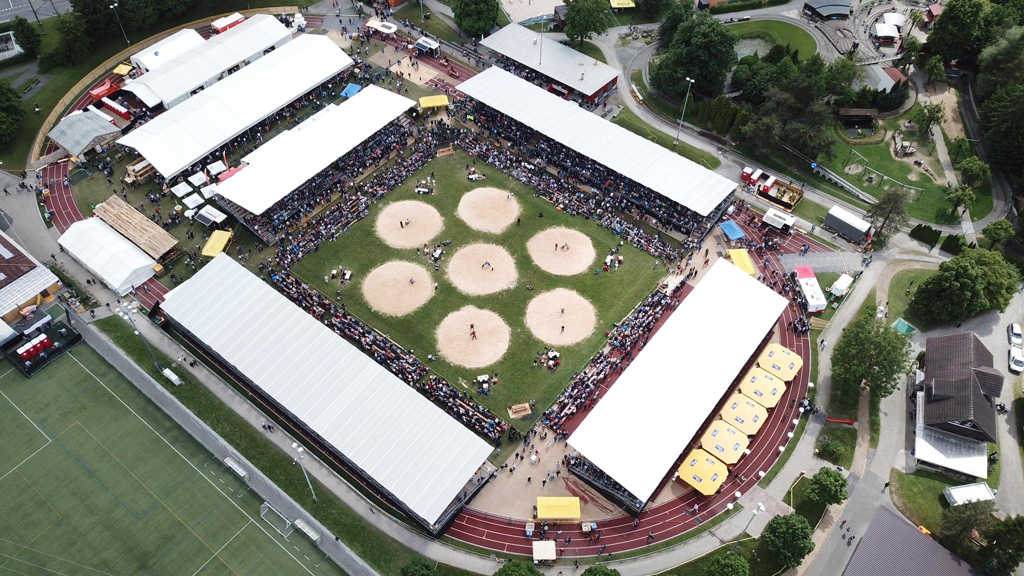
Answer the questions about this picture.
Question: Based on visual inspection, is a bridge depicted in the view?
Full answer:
Yes, there is a bridge in the image.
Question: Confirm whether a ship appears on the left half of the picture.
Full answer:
No, I see no ship on the left half of the picture.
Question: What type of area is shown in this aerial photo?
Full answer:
What you see here is a sports ground.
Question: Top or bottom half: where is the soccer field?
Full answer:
The soccer field sits in the bottom half of the picture.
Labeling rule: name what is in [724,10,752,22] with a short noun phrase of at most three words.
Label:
train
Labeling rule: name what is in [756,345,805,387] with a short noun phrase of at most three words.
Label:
umbrella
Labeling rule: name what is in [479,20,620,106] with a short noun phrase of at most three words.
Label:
building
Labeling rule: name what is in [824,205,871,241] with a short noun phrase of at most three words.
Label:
trailer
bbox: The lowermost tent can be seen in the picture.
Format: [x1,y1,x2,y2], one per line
[533,539,555,569]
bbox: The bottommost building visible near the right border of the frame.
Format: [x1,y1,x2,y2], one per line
[840,505,977,576]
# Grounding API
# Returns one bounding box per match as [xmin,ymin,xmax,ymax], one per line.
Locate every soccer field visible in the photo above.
[0,339,349,576]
